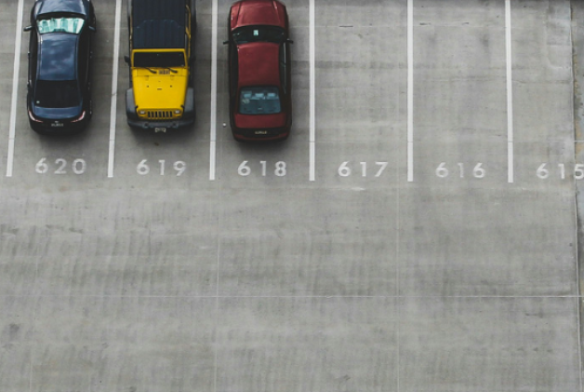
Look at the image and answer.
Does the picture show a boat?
No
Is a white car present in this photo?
No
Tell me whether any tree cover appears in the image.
No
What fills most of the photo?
paved ground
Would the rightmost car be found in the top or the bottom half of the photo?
top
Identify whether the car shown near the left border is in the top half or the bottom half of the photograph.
top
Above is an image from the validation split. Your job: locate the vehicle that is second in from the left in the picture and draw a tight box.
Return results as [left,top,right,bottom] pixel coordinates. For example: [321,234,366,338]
[124,0,198,132]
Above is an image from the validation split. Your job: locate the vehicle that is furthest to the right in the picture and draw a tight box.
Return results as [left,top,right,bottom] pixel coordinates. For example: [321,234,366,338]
[221,0,299,140]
